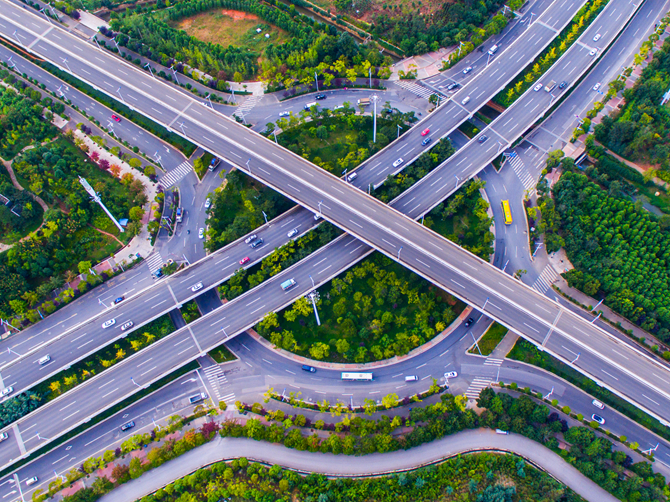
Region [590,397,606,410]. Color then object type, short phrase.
white vehicle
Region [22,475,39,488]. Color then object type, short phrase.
white vehicle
